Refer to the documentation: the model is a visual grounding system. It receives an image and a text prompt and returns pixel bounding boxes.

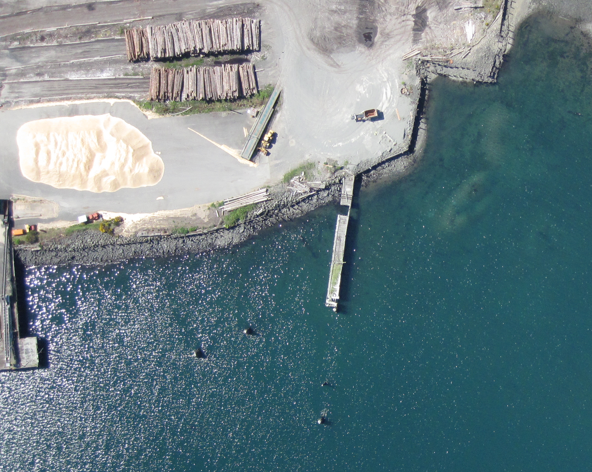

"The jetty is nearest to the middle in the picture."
[325,175,356,307]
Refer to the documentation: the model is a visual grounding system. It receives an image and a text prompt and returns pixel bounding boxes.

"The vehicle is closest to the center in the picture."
[259,127,277,158]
